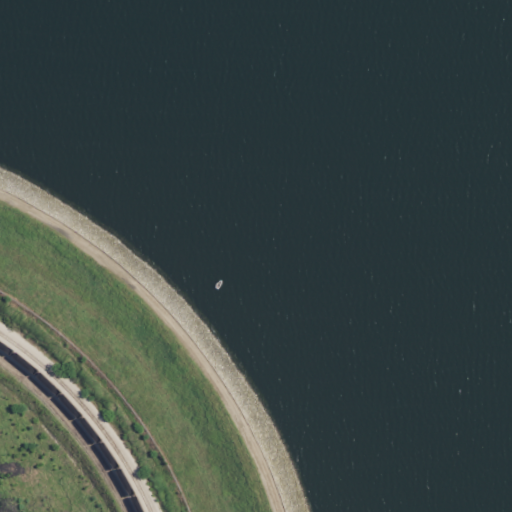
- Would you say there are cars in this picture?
No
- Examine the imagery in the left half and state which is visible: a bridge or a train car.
train car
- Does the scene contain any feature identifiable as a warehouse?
No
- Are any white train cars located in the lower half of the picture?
No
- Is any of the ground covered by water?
Yes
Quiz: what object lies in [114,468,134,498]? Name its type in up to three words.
rail car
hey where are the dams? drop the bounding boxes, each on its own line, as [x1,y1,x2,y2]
[0,164,314,512]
